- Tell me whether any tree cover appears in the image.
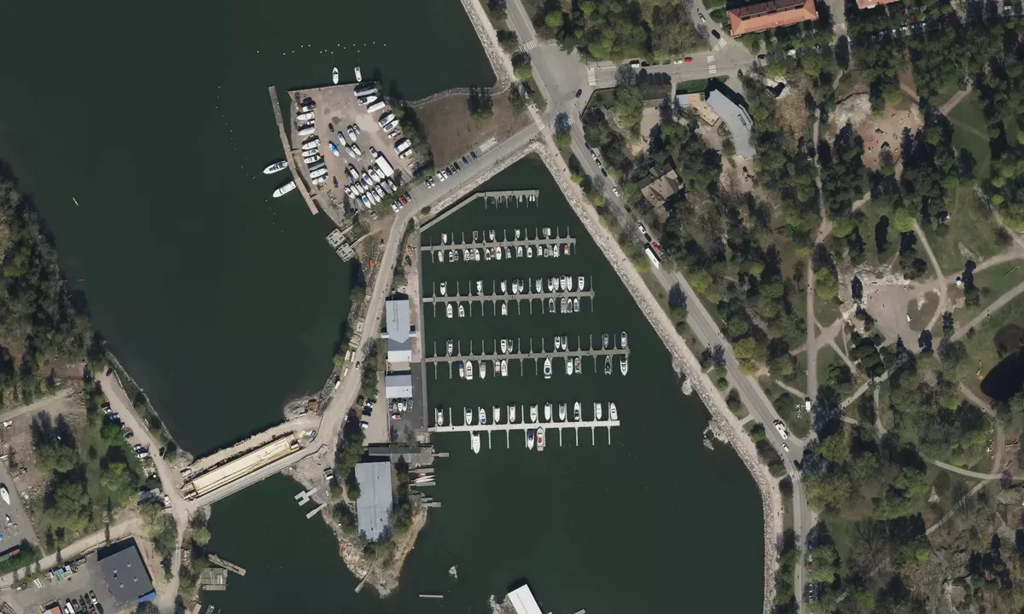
Yes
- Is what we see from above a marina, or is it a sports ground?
marina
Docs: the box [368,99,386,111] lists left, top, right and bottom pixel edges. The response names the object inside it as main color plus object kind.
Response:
white boat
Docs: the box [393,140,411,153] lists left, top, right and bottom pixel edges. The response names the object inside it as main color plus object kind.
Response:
white boat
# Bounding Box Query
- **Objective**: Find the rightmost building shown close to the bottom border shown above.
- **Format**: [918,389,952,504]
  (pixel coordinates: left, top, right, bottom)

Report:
[508,584,542,614]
